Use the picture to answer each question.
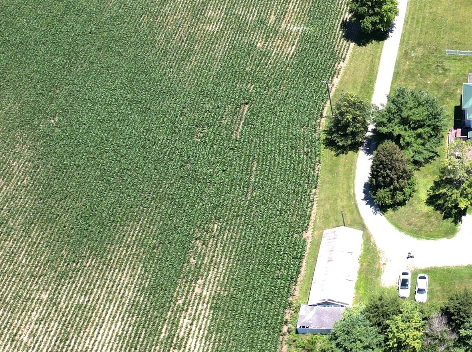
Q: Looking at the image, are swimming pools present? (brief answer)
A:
No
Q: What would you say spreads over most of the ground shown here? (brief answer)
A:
farmland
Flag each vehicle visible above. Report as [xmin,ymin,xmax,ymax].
[413,273,429,305]
[397,268,411,299]
[406,250,416,259]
